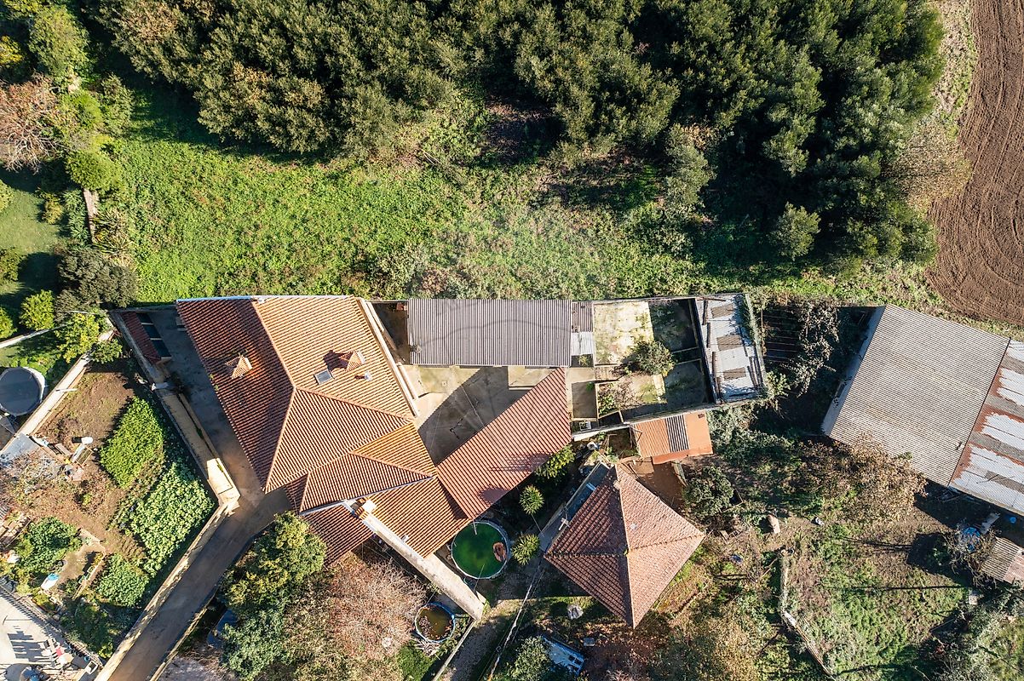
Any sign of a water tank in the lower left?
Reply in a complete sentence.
No, I can find no water tank in the lower left.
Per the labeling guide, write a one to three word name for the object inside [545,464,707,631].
house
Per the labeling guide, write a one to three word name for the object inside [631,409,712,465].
shed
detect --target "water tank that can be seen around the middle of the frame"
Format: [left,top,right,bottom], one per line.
[569,382,600,420]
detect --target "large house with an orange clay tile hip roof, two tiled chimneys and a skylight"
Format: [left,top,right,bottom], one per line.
[175,293,467,564]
